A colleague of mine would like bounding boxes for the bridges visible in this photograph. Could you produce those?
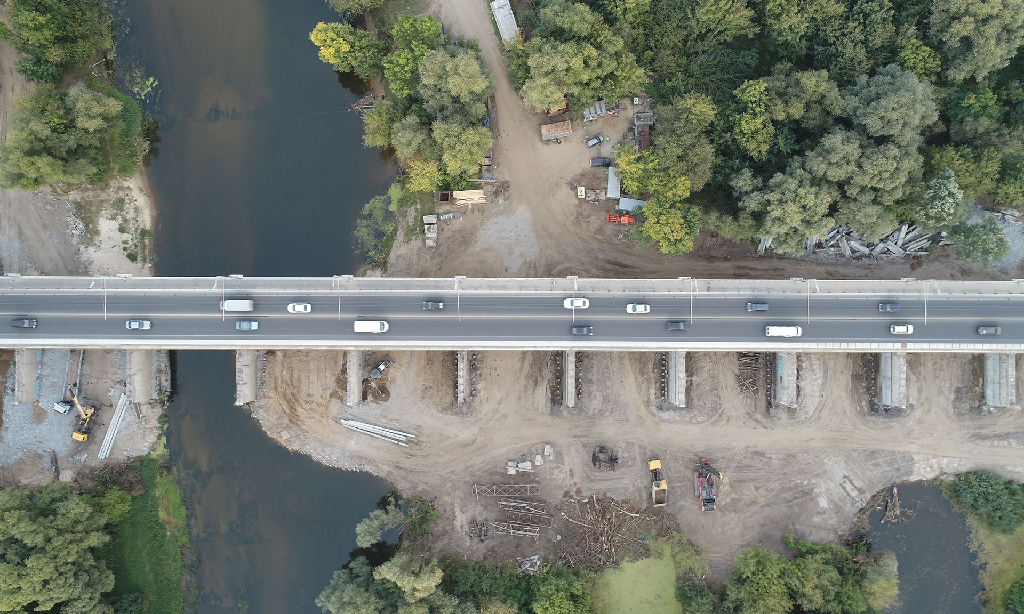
[0,274,1024,408]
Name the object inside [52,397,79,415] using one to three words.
vehicle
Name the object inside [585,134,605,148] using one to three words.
car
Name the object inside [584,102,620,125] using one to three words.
shed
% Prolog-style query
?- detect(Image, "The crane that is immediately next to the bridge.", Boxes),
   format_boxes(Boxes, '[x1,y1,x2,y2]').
[67,385,113,440]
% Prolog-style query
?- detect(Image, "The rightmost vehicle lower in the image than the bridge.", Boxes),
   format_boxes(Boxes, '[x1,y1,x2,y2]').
[647,458,667,506]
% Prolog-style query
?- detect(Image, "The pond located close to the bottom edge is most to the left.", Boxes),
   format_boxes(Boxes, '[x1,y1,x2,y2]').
[593,534,683,614]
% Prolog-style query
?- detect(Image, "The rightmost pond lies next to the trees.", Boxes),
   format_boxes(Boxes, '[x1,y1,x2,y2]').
[863,484,1024,614]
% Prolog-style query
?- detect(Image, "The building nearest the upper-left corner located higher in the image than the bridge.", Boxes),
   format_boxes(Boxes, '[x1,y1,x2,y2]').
[490,0,519,47]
